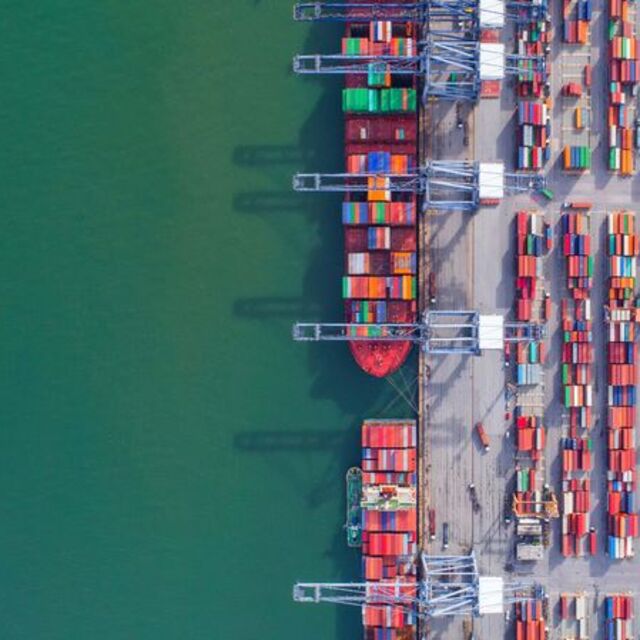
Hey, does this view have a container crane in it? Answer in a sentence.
Yes, the photo shows a container crane.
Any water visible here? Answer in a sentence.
Yes, some water is visible.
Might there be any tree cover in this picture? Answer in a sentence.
No, the scene doesn't show any tree cover.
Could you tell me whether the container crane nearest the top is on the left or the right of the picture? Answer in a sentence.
The container crane nearest the top appears in the right half of the scene.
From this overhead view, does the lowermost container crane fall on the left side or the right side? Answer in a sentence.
You can find the lowermost container crane on the right side of the picture.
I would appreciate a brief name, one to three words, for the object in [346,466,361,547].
ship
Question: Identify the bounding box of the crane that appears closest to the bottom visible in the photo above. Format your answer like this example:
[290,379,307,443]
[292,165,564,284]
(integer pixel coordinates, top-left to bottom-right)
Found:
[292,543,546,617]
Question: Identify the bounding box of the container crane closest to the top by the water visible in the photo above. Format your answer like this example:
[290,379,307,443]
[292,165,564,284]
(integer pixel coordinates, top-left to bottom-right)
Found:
[292,0,546,65]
